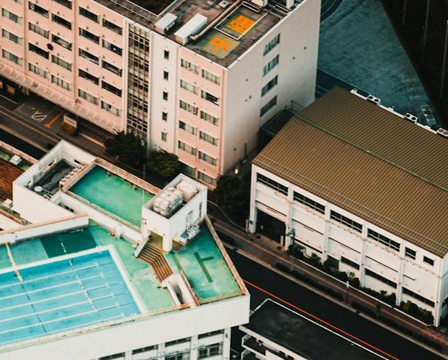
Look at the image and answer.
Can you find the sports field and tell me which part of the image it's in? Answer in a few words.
top right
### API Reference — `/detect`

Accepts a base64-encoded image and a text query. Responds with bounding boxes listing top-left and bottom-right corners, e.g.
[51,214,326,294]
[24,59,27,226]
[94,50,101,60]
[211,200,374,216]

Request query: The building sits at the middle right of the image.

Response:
[248,87,448,326]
